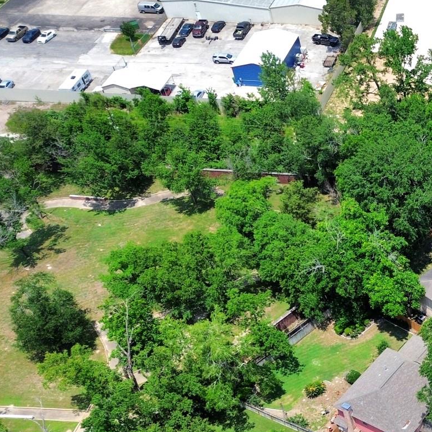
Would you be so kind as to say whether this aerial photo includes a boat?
No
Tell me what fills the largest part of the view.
trees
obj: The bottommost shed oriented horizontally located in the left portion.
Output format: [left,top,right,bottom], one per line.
[102,66,178,98]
